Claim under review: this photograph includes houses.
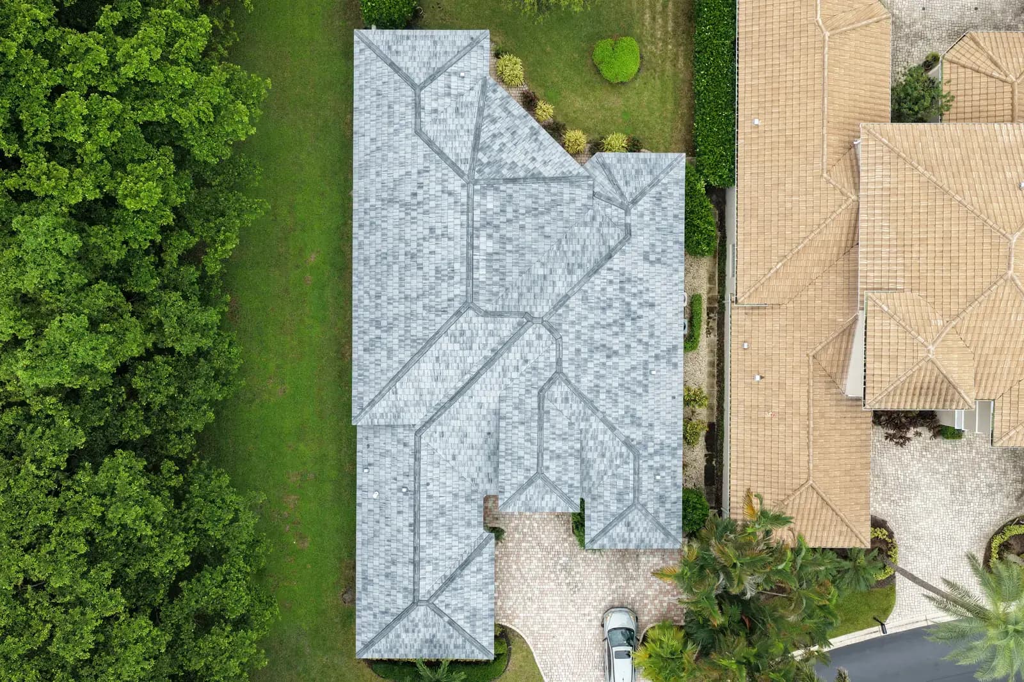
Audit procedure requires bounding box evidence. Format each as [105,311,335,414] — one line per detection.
[721,0,1024,549]
[351,23,686,660]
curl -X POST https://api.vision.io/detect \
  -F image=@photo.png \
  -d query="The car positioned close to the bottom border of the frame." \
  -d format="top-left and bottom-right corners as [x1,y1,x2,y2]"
[601,606,640,682]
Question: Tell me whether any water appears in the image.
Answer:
No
